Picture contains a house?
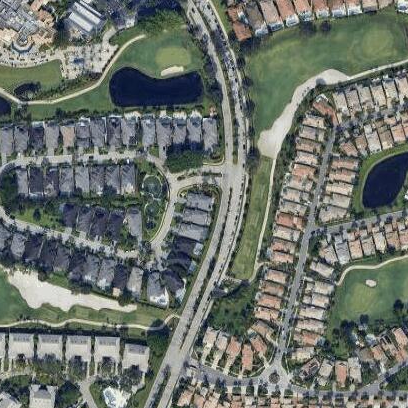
Yes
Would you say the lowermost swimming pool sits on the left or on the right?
left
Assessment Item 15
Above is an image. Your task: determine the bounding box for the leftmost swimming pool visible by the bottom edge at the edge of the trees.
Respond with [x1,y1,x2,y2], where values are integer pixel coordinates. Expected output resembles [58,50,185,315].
[103,387,131,408]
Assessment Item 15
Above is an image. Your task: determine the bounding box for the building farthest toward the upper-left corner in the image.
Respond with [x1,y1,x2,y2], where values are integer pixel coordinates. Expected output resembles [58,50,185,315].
[0,0,59,50]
